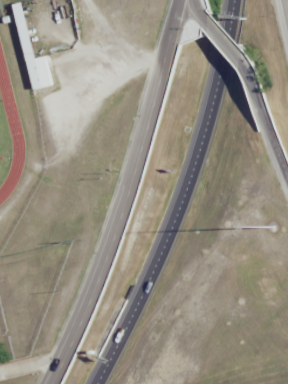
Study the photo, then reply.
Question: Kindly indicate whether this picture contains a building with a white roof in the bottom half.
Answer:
No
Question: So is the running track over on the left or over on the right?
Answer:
left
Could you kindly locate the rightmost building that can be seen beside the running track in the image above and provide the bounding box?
[12,2,55,89]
